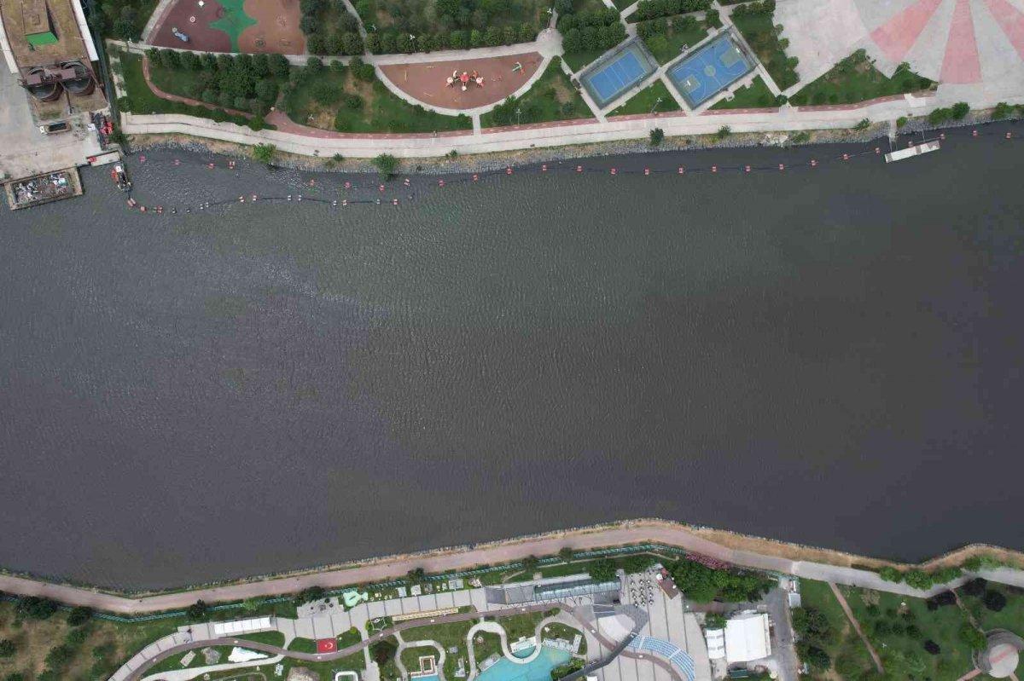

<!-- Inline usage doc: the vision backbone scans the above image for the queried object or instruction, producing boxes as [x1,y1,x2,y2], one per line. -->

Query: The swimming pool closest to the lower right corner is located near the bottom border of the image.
[478,644,572,681]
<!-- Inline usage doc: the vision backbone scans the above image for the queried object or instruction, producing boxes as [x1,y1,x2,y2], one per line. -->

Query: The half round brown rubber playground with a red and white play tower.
[378,51,544,110]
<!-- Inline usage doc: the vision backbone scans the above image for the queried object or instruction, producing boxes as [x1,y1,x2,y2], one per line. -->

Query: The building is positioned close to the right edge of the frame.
[984,644,1019,676]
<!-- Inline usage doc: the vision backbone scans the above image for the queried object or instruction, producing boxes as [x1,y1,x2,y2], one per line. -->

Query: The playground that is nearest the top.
[151,0,305,54]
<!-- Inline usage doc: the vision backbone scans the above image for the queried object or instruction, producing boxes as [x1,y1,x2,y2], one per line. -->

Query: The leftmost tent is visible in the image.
[597,613,635,641]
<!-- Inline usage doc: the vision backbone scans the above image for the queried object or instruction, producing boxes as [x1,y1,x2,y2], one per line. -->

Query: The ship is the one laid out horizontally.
[4,167,85,210]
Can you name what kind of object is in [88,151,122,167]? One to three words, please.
pier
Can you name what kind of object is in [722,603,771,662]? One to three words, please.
building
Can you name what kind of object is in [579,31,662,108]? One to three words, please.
sports court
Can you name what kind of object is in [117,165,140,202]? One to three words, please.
boat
